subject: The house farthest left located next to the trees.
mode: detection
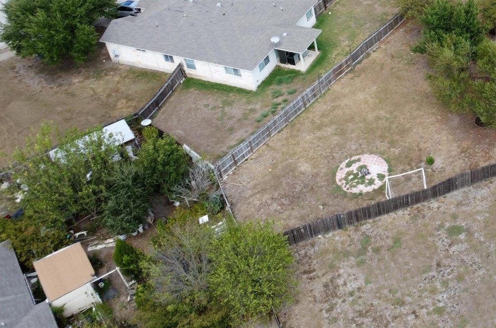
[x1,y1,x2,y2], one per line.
[0,220,59,328]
